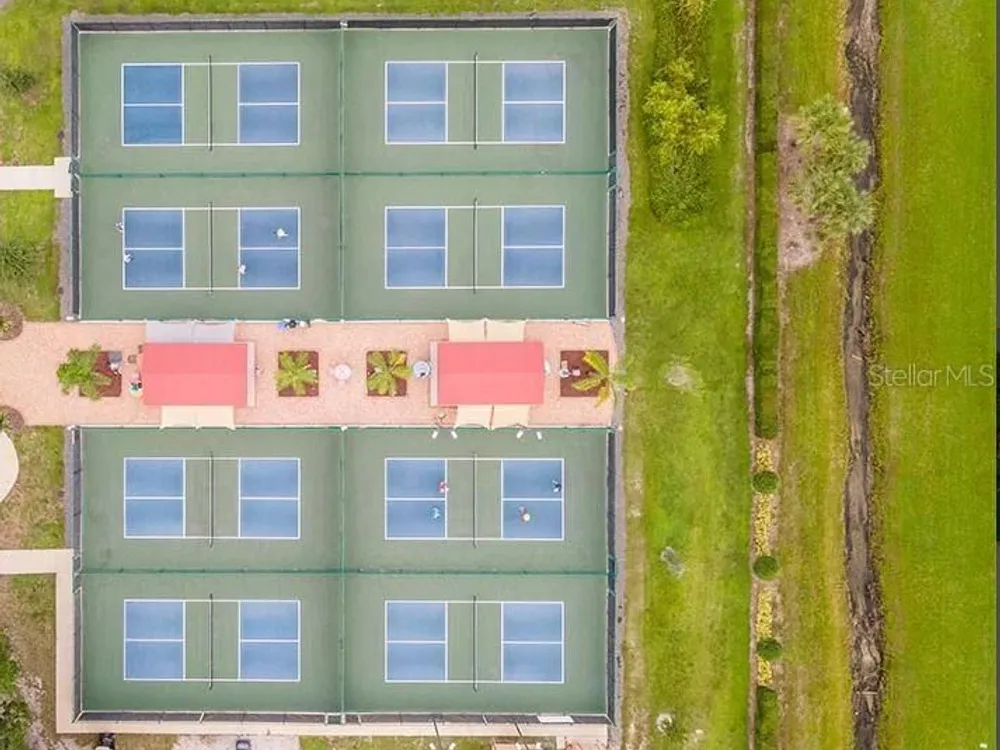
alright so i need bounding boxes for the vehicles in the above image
[94,734,116,750]
[233,740,252,750]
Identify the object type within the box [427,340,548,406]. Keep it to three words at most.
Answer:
building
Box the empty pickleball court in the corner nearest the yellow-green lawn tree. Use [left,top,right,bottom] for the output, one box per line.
[343,29,607,175]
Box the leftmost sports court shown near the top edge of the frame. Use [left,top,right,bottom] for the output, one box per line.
[80,31,342,176]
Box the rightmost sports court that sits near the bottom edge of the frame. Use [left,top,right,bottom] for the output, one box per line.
[343,571,605,714]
